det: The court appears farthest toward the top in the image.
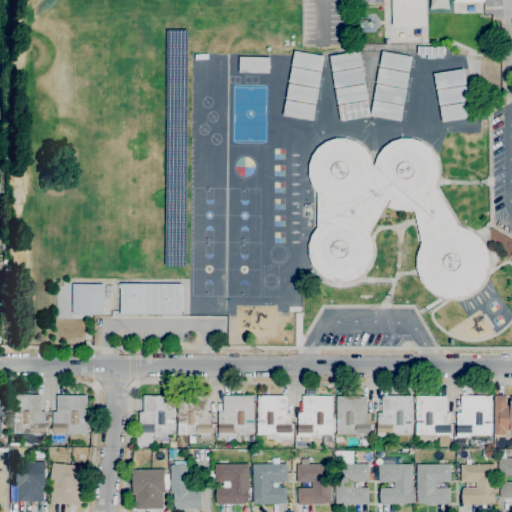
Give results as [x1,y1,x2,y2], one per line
[234,85,268,144]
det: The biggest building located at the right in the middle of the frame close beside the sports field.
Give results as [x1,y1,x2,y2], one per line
[308,137,490,299]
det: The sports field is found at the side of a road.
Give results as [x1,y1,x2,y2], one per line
[0,0,304,346]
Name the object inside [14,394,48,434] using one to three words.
house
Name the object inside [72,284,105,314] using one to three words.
building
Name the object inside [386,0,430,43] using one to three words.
building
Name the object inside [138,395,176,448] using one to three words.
house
